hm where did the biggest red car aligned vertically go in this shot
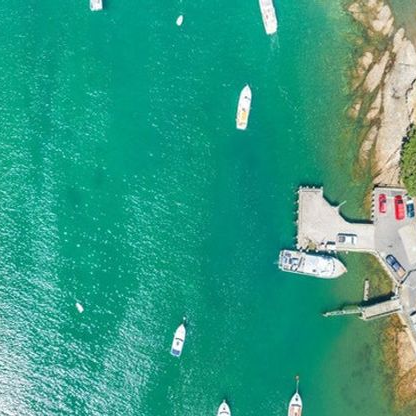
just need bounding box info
[392,195,405,220]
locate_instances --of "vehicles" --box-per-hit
[376,194,388,214]
[408,312,416,332]
[392,195,405,220]
[404,196,416,219]
[384,254,406,277]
